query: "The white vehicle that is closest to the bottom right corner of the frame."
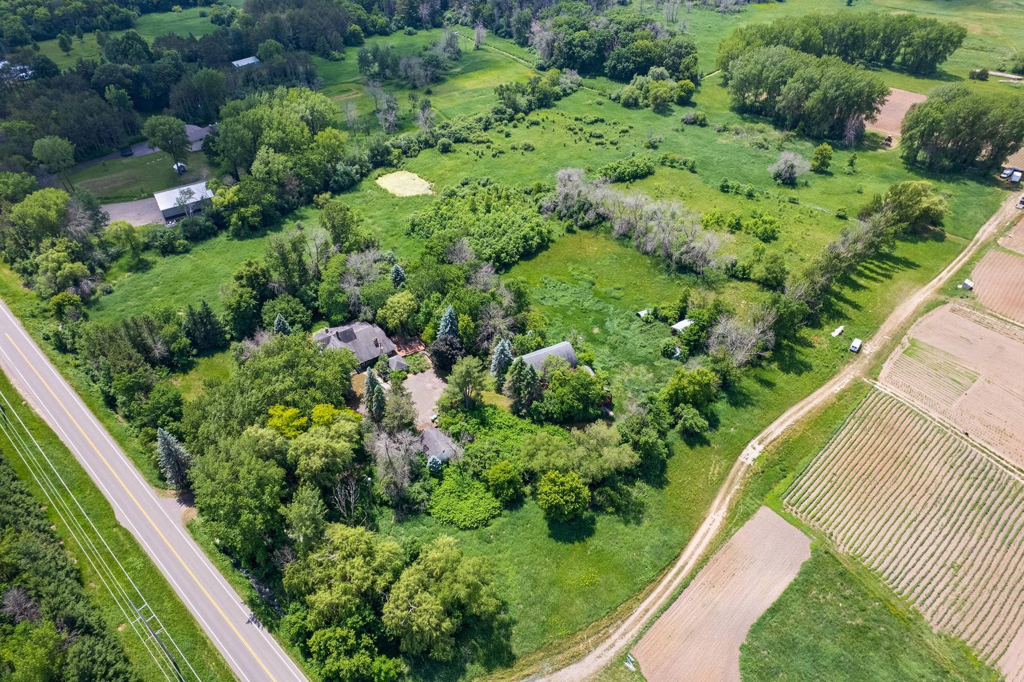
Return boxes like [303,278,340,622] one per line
[847,339,860,355]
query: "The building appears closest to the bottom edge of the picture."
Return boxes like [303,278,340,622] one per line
[417,426,462,469]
